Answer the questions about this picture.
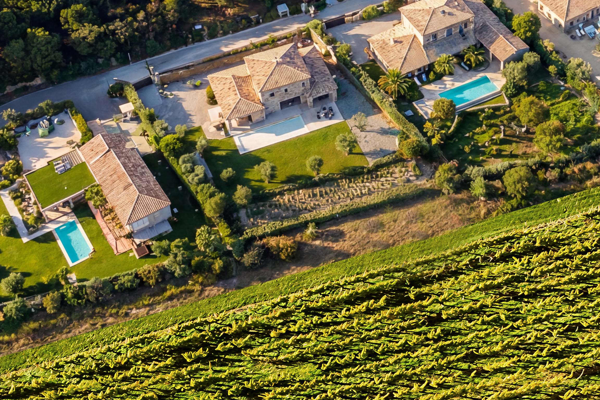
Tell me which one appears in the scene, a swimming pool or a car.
swimming pool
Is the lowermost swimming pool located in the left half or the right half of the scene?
left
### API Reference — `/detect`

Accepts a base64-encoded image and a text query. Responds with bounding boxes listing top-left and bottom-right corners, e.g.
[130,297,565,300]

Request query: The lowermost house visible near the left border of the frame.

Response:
[23,129,172,236]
